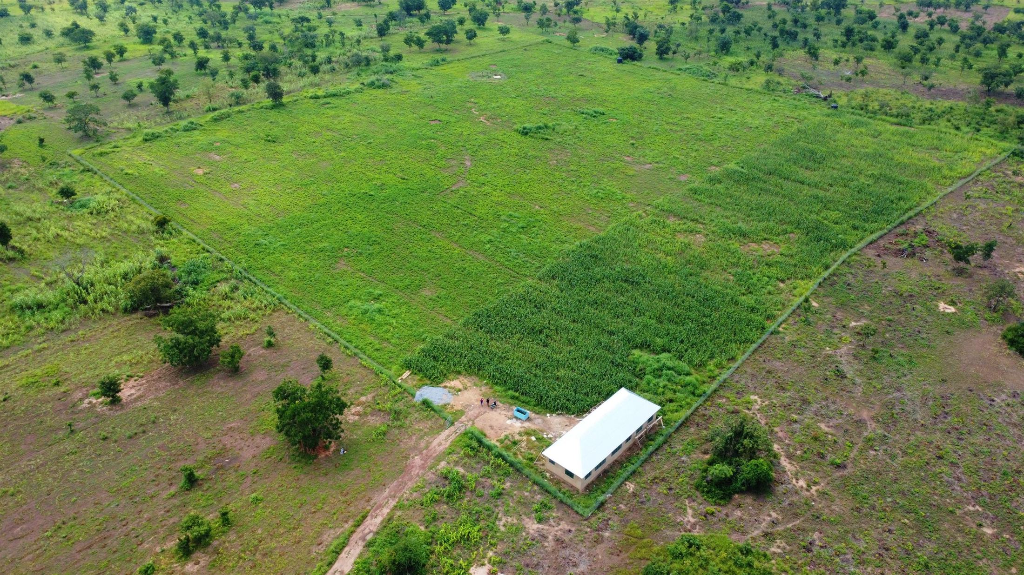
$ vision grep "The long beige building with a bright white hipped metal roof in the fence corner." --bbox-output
[543,388,661,492]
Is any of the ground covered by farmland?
Yes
